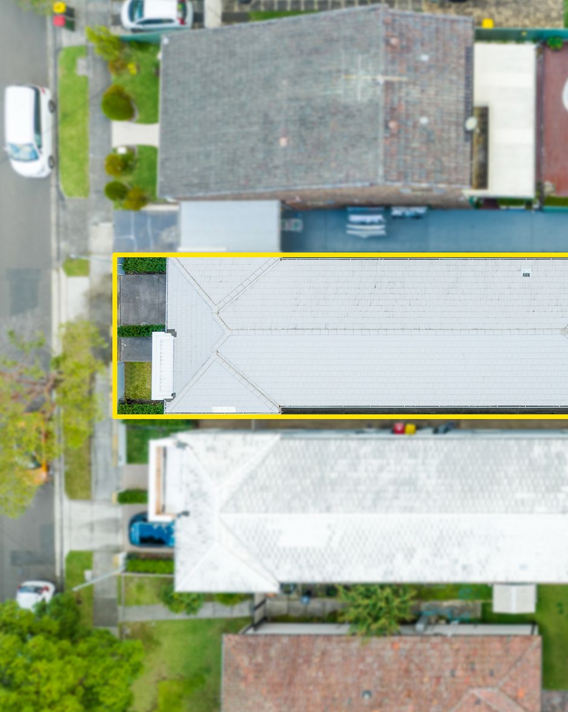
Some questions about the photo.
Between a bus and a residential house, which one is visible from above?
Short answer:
residential house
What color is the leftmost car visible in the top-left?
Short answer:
white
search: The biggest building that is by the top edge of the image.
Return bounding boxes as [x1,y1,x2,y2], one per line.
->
[158,5,475,201]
